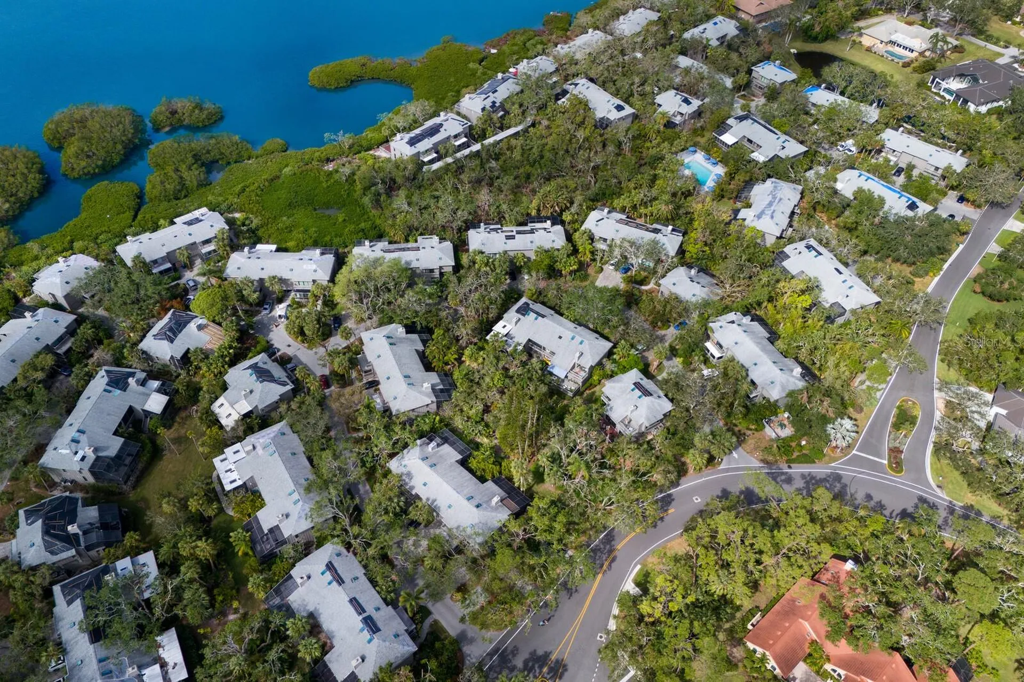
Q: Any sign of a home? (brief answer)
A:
Yes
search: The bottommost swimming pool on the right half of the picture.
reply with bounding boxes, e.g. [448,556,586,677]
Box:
[678,147,728,190]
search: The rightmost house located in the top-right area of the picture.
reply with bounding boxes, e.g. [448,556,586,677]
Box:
[924,61,1024,118]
